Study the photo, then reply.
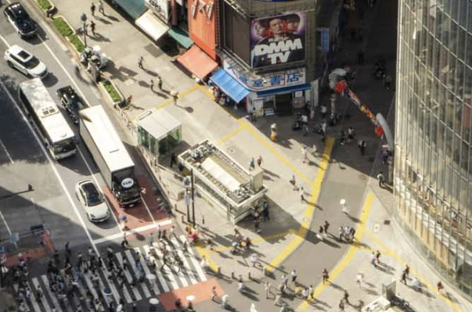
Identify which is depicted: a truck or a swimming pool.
truck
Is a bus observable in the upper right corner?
No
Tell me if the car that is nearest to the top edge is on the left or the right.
left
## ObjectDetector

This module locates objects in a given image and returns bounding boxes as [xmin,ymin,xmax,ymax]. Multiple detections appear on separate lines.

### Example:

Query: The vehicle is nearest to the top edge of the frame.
[1,1,38,37]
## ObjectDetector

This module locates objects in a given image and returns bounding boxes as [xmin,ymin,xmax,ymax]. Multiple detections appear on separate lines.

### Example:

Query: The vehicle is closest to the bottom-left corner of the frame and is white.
[73,179,108,220]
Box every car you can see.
[55,84,86,123]
[1,1,38,37]
[73,179,108,220]
[2,44,45,80]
